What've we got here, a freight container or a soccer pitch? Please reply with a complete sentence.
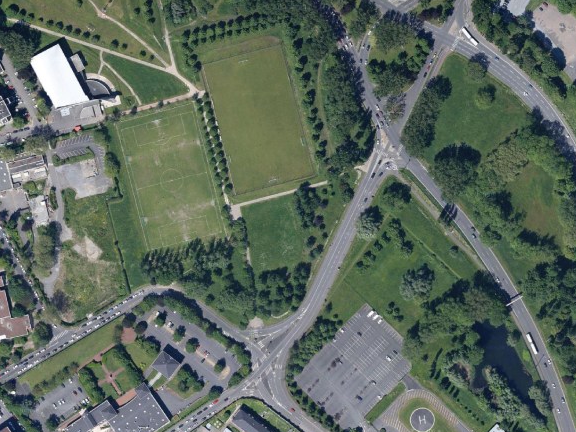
The one in the frame is a soccer pitch.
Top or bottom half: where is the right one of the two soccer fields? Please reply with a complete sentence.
It is in the top half that the right one of the two soccer fields appears.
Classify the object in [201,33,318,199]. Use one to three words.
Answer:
soccer field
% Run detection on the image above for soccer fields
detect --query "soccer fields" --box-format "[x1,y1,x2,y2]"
[201,33,318,199]
[115,103,227,252]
